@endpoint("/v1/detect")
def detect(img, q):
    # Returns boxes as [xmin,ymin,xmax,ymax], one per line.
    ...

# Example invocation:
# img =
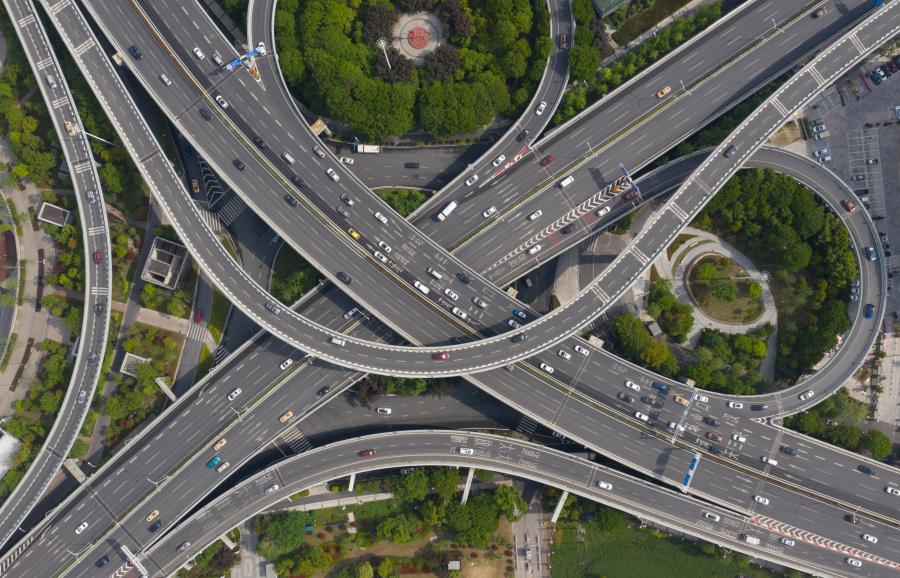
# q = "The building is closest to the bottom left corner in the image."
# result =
[0,426,32,488]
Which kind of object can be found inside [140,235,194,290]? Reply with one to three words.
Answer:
building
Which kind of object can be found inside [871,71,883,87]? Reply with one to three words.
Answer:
vehicle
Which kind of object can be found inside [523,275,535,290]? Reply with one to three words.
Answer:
vehicle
